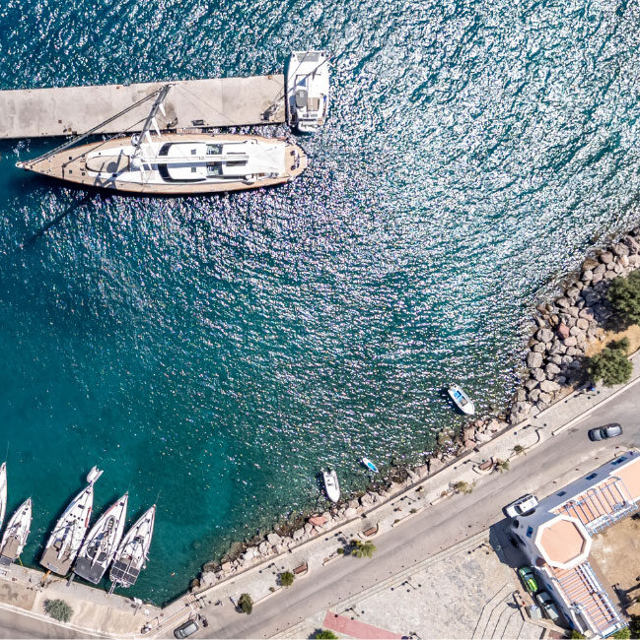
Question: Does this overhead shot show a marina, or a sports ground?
marina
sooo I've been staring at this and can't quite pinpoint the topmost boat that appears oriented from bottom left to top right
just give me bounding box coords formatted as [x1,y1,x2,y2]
[87,464,103,486]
